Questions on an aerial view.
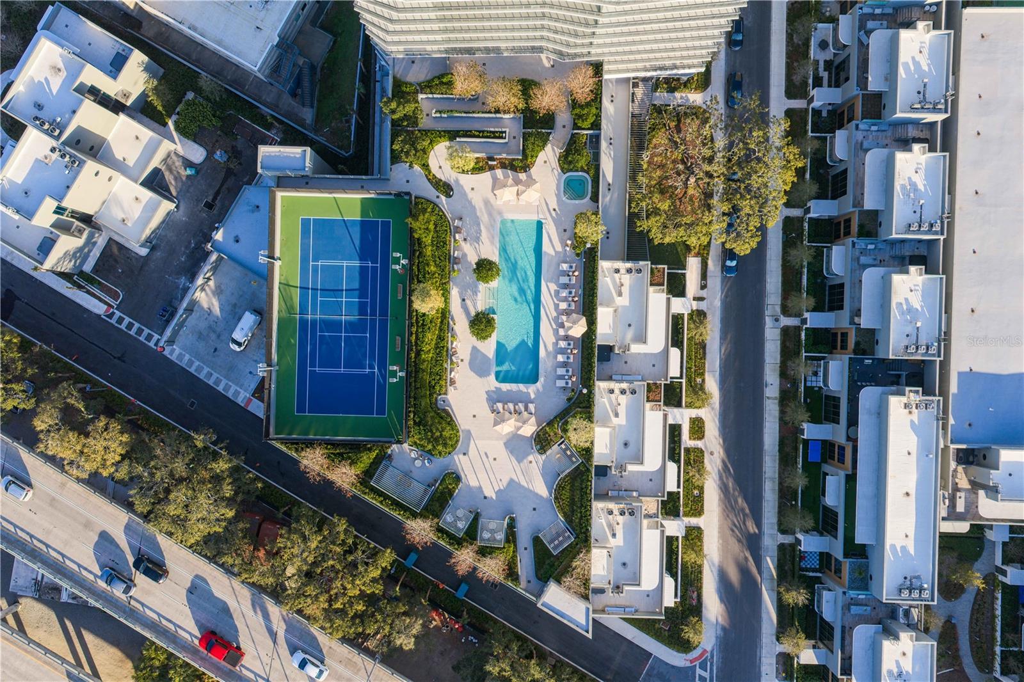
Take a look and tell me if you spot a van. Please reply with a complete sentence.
Yes, the picture does show a van.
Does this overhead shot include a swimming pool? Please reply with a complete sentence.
Yes, a swimming pool can be made out from above.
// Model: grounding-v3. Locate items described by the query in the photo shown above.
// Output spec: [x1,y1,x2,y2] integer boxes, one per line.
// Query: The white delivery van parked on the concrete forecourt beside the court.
[229,308,262,352]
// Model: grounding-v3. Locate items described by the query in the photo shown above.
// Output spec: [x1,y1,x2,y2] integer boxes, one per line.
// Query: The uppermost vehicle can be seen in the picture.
[727,14,746,52]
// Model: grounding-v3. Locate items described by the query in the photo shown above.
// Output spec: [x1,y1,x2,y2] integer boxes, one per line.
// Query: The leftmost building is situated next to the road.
[0,3,181,270]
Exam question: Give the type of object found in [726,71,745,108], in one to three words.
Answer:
car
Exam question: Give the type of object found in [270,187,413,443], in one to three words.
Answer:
tennis court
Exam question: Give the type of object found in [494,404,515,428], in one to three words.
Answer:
umbrella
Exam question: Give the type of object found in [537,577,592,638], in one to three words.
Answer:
building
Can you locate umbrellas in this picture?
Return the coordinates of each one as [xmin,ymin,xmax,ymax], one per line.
[515,408,538,430]
[518,177,541,199]
[494,404,515,428]
[563,312,584,336]
[494,175,516,199]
